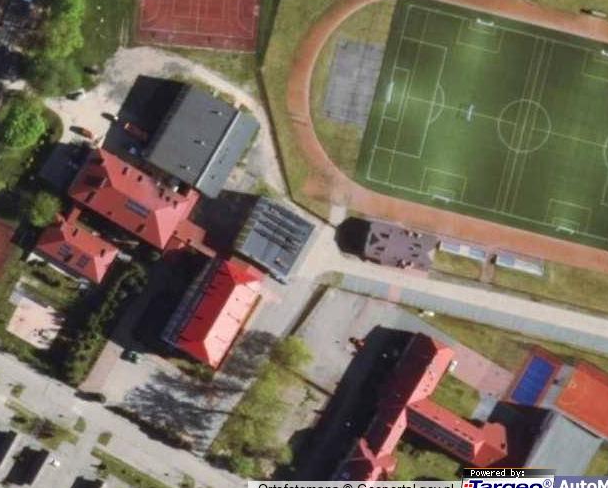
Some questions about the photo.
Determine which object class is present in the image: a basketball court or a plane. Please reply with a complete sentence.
I can see a basketball court in this picture.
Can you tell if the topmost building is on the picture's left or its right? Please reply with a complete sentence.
It is on the left.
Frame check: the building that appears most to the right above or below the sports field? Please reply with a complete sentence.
The building that appears most to the right is located below the sports field in this view.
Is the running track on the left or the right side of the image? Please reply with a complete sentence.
You can find the running track on the right side of the picture.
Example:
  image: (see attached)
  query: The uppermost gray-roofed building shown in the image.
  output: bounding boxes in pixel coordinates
[148,84,259,197]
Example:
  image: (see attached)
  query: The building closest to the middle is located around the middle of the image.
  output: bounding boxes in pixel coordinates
[239,198,316,277]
